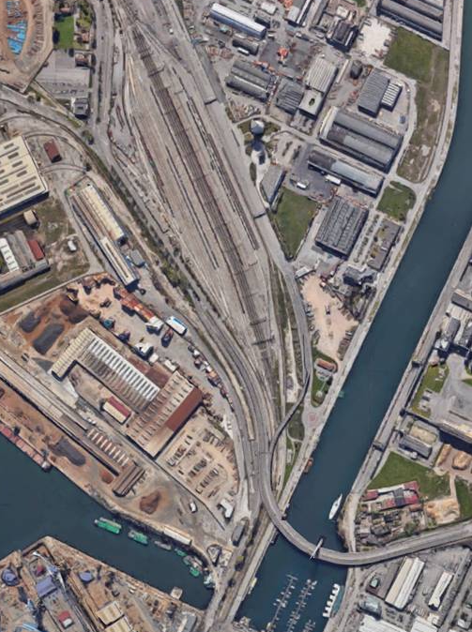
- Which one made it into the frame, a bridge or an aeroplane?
bridge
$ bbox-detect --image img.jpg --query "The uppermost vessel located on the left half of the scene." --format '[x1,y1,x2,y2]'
[0,423,49,471]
